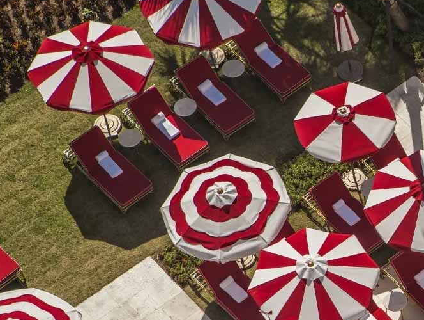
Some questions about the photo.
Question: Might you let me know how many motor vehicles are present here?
none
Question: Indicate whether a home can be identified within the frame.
No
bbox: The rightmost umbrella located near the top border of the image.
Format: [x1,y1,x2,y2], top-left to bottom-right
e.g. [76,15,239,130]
[332,0,367,85]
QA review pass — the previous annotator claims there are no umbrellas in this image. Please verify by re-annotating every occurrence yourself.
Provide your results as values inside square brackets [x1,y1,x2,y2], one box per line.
[246,228,384,320]
[332,0,367,85]
[292,83,401,197]
[361,149,424,256]
[158,153,292,277]
[0,290,74,320]
[140,0,261,71]
[29,17,156,138]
